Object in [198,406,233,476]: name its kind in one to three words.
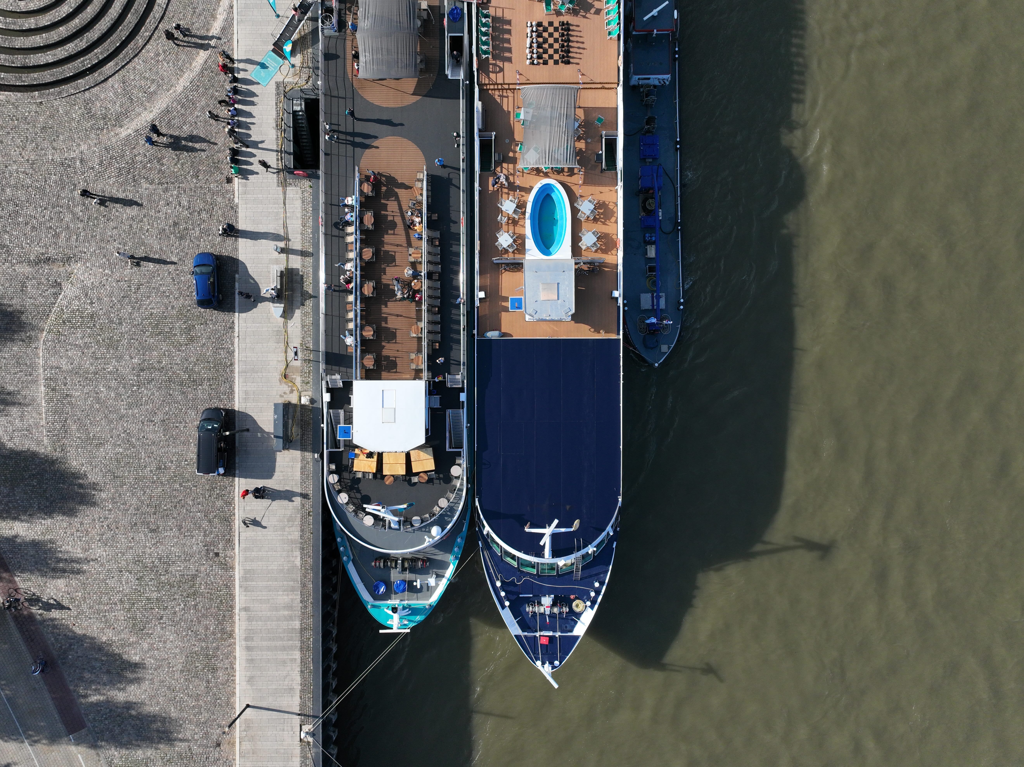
van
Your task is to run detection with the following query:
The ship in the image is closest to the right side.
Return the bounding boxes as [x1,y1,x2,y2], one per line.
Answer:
[623,0,685,367]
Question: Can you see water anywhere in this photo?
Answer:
Yes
